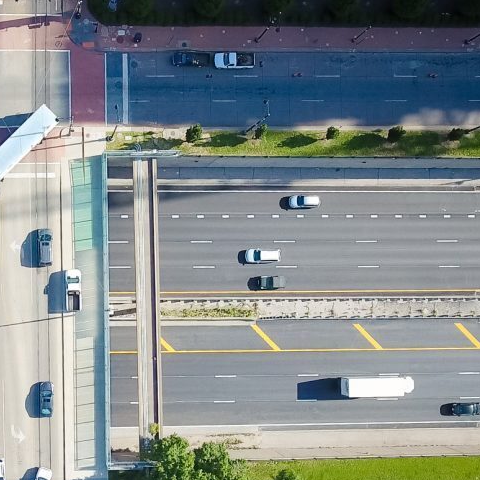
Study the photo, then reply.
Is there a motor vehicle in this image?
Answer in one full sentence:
Yes, there is a motor vehicle in the image.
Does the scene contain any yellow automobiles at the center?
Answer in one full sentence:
No, looking at the center, there is no yellow automobile.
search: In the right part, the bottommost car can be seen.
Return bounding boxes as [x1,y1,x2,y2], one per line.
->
[450,401,480,417]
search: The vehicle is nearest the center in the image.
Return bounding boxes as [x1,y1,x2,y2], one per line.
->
[244,247,282,264]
